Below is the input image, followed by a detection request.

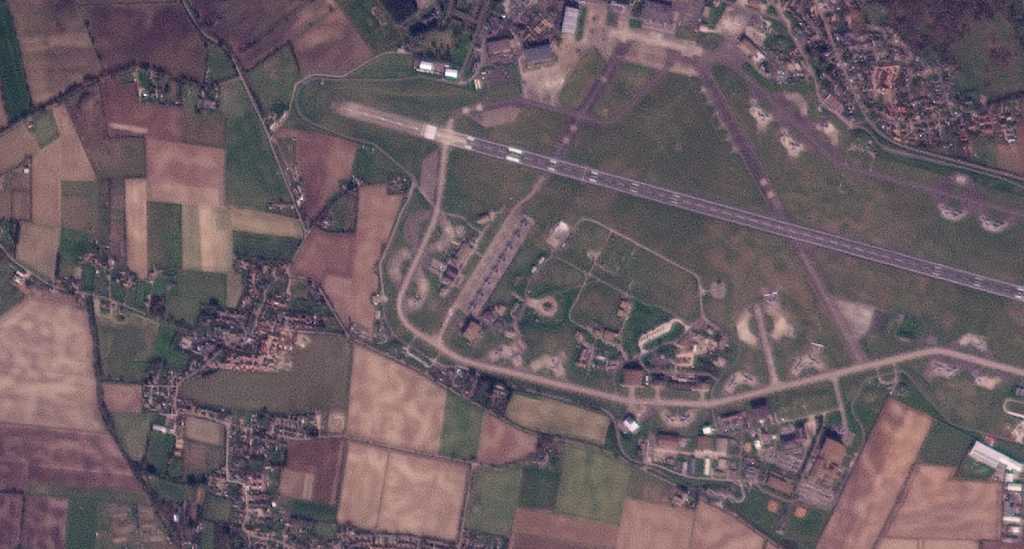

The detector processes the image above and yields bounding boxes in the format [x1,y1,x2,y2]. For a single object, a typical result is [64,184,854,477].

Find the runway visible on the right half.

[357,112,1024,301]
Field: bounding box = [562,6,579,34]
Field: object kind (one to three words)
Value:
hangar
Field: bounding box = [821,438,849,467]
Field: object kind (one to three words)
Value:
hangar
